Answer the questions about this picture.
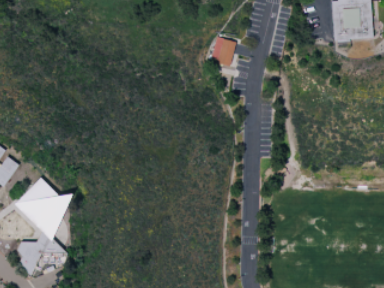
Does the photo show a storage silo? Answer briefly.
No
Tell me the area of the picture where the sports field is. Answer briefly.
bottom right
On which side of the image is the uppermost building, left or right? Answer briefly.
right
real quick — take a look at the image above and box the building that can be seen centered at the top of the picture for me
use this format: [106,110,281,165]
[214,36,237,66]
